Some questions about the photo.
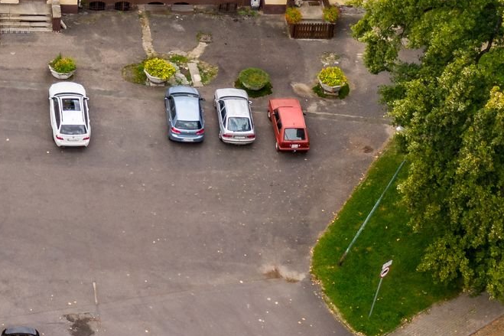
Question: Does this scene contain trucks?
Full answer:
No, this view has no truck in it.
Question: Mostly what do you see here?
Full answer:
The largest share of the image is taken up by paved ground.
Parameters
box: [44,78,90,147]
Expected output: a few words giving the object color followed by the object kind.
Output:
white car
